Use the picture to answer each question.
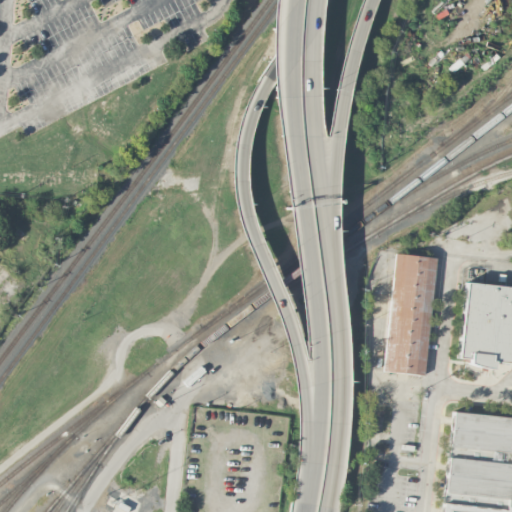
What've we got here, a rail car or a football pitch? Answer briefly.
rail car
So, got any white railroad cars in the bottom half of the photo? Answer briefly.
Yes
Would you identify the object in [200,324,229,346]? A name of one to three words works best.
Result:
rail car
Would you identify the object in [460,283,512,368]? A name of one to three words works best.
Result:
building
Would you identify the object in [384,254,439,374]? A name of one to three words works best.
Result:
building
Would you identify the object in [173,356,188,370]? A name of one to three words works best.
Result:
rail car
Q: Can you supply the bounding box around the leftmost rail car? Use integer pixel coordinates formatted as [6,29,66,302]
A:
[114,406,142,438]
